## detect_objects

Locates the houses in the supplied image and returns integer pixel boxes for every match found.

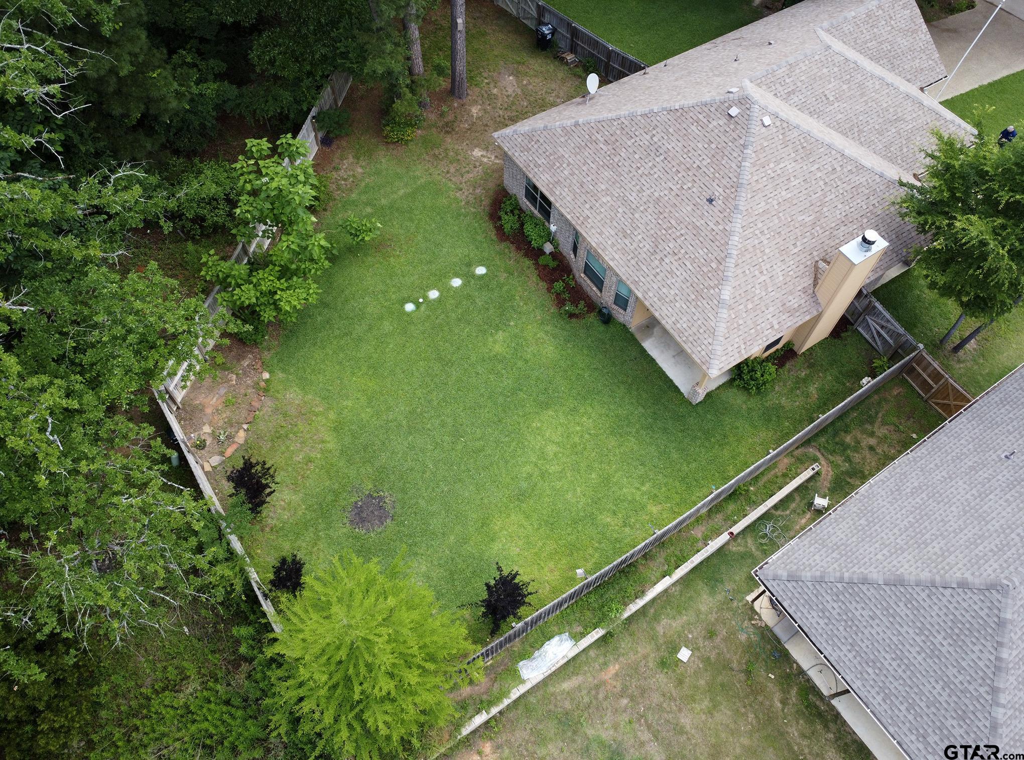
[749,366,1024,760]
[496,0,989,404]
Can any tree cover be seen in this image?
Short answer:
Yes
